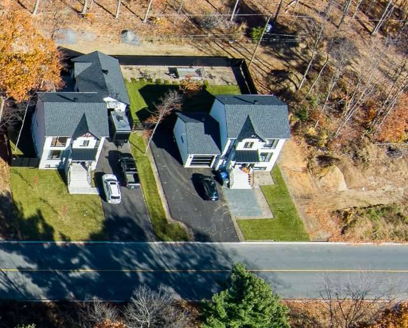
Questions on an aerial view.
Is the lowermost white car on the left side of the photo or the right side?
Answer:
left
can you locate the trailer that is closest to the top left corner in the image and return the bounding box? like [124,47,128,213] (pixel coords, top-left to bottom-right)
[109,110,133,151]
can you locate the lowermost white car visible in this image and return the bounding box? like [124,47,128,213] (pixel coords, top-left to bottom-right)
[101,174,123,204]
